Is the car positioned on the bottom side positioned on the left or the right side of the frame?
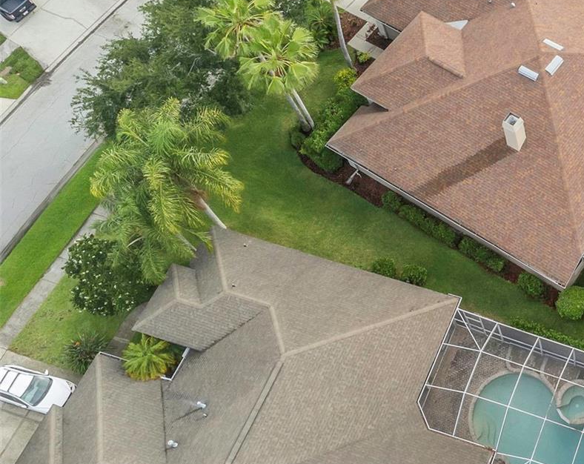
left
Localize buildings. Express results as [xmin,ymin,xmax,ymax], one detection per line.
[15,225,494,464]
[326,0,584,293]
